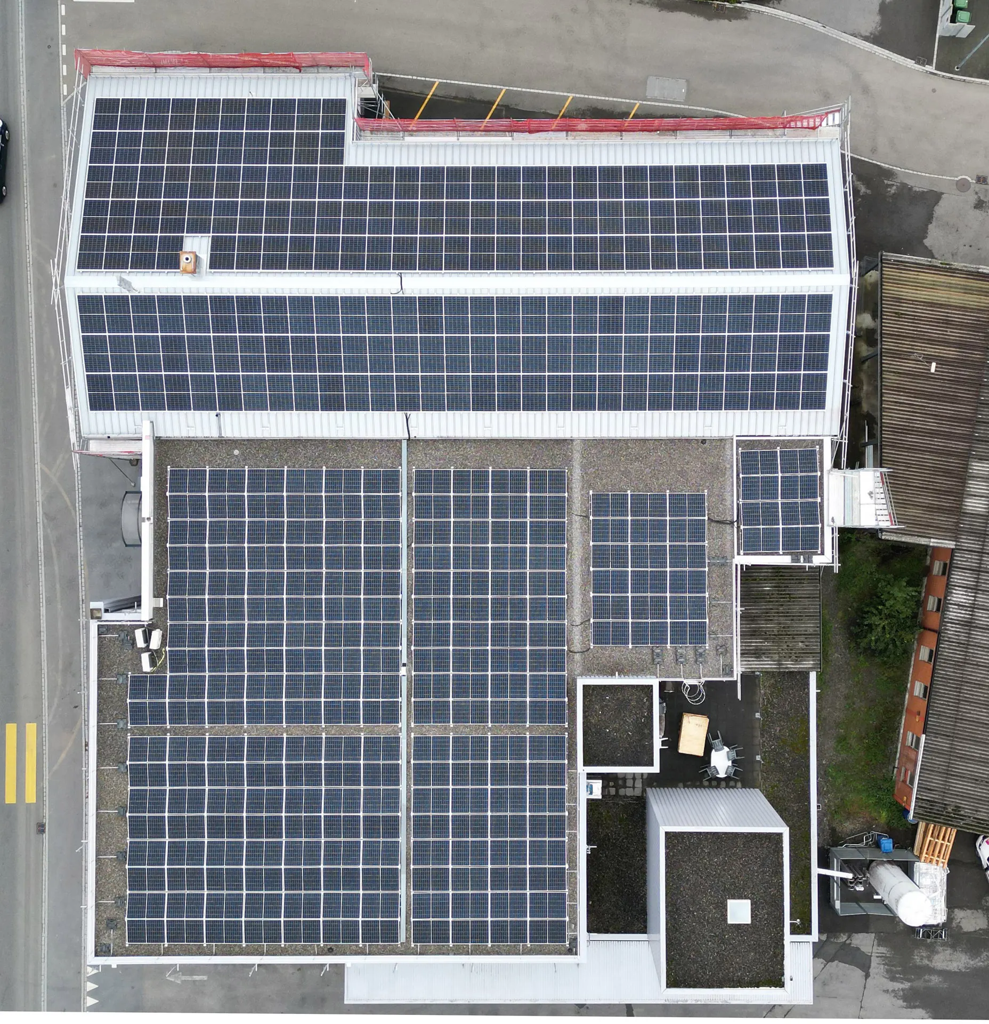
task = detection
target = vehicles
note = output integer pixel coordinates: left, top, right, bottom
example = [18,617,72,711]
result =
[974,835,989,885]
[0,117,11,201]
